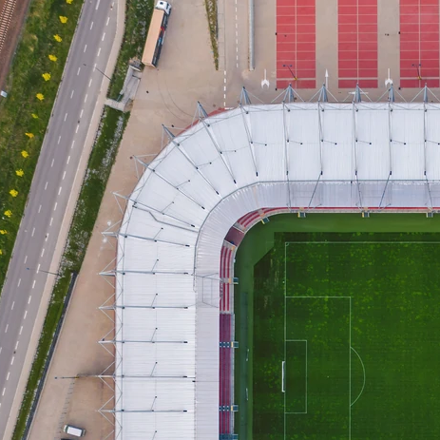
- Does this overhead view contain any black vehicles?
No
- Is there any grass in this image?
Yes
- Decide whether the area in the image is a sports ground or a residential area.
sports ground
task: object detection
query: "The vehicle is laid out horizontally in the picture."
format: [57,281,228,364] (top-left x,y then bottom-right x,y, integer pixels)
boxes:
[65,424,87,437]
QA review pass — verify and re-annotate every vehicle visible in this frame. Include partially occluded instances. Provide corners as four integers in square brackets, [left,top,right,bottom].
[140,1,169,65]
[65,424,87,437]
